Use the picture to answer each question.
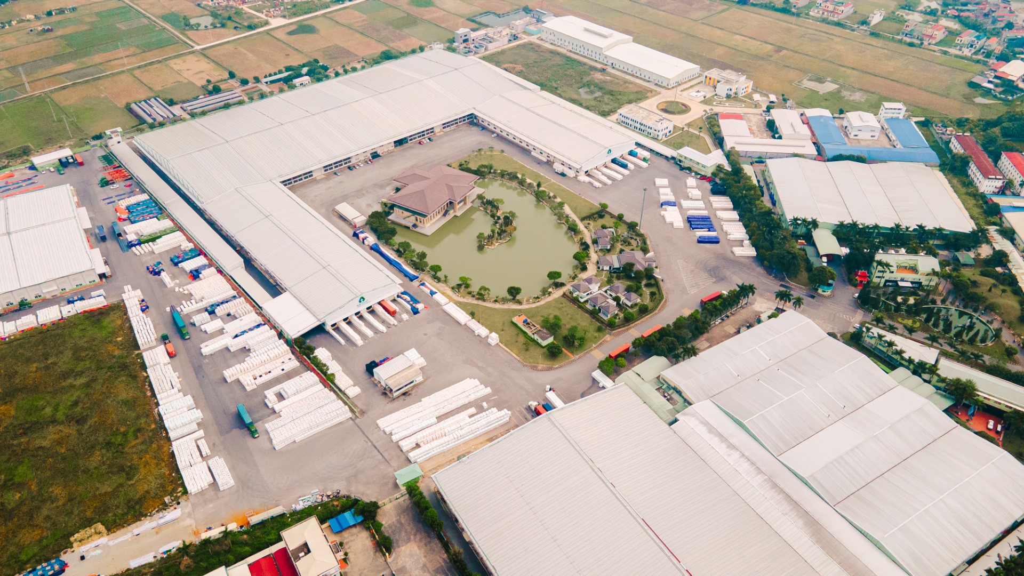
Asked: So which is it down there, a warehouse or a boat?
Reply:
warehouse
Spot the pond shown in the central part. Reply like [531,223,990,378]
[394,178,577,297]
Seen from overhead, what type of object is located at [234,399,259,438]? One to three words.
truck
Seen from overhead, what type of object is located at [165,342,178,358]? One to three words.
vehicle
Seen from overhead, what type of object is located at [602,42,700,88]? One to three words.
building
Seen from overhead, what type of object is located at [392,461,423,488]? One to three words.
shed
